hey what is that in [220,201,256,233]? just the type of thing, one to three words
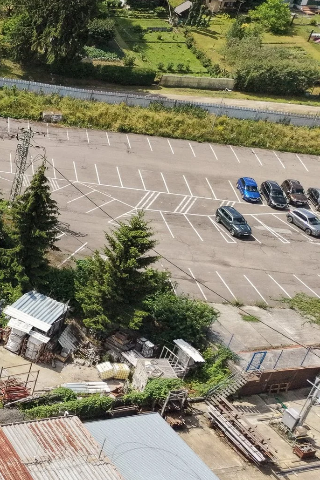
car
